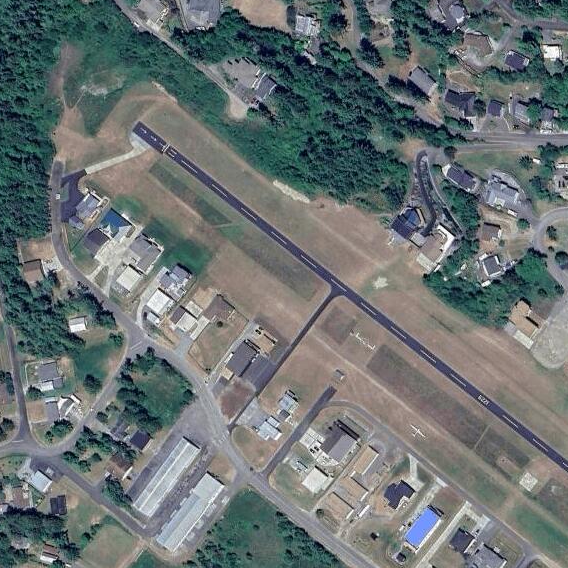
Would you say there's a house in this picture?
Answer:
Yes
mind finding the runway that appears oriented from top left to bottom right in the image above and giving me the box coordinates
[131,119,568,476]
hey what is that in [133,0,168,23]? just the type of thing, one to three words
house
